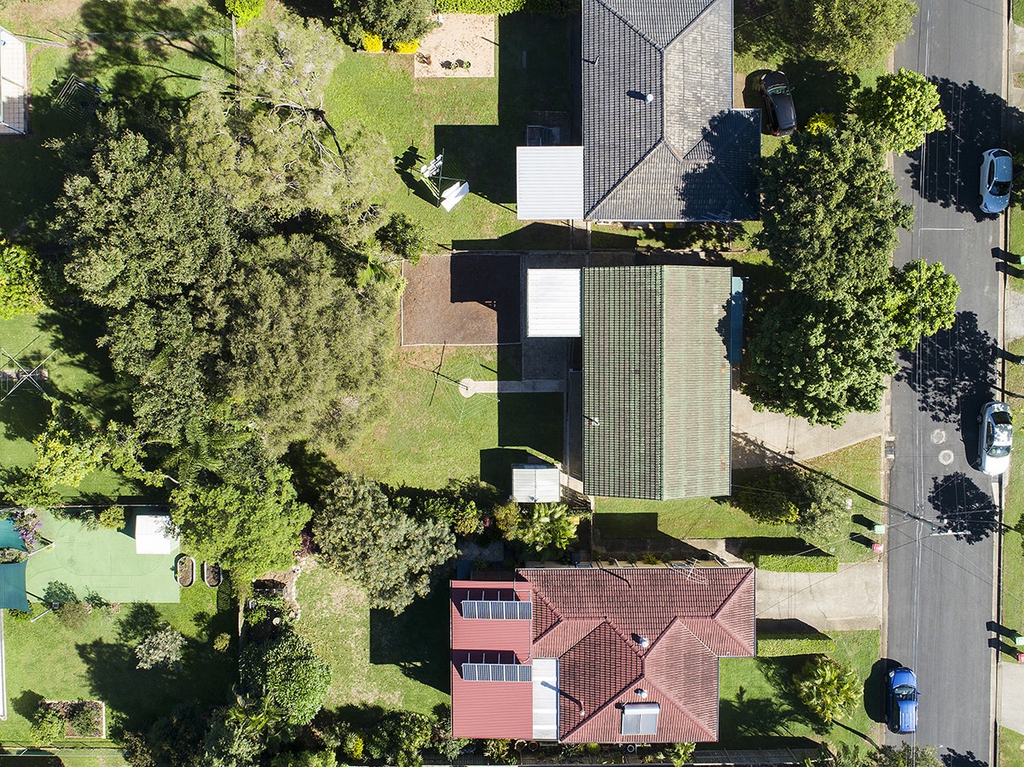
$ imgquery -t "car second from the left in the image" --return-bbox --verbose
[889,667,926,733]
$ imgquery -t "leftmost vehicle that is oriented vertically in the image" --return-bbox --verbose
[759,69,800,138]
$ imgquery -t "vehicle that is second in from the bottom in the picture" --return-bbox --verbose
[979,401,1018,475]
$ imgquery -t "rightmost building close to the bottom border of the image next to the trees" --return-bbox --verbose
[450,552,757,745]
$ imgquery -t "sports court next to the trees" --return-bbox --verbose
[18,509,179,603]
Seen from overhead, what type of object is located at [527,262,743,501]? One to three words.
building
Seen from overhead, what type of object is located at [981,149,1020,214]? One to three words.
car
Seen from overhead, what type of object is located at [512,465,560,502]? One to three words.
shed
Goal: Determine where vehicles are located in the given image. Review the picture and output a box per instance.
[759,69,800,138]
[889,667,926,733]
[979,401,1018,475]
[981,149,1020,214]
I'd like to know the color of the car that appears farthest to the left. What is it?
black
